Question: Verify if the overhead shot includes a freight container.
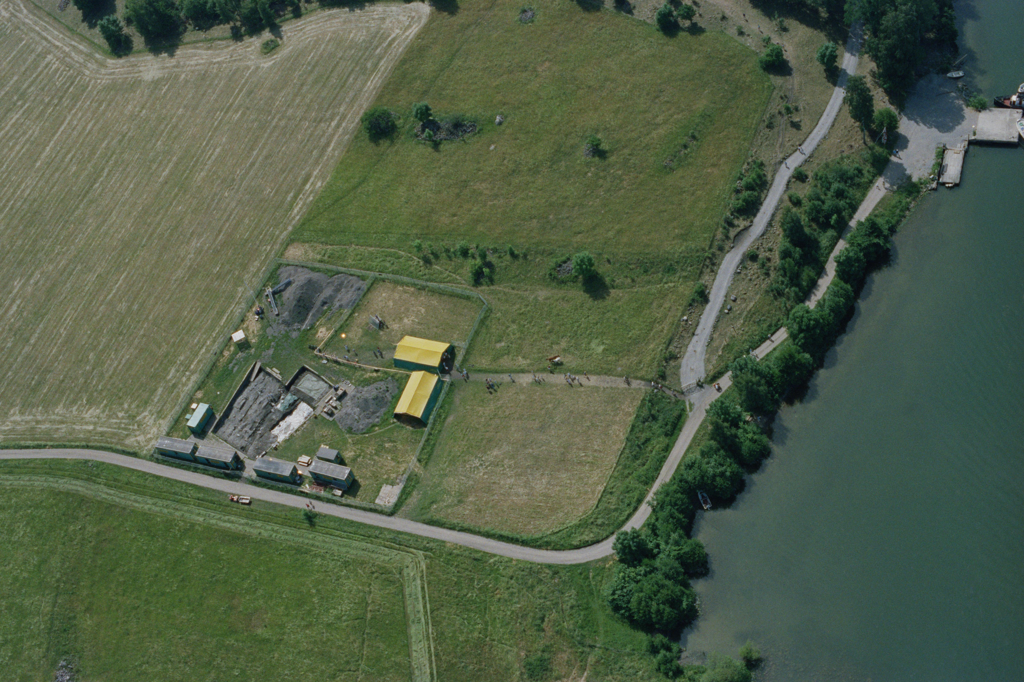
Yes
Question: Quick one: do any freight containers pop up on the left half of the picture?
Yes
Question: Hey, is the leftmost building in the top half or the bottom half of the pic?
bottom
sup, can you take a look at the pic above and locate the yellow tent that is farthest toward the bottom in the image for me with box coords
[394,371,441,424]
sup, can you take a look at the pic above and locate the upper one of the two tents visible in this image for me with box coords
[394,336,452,373]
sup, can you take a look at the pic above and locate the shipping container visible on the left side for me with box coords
[186,403,214,435]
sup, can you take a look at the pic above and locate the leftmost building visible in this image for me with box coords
[154,436,198,461]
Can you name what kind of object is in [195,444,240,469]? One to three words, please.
building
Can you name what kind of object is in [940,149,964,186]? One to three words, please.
pier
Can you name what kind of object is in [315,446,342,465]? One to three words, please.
building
